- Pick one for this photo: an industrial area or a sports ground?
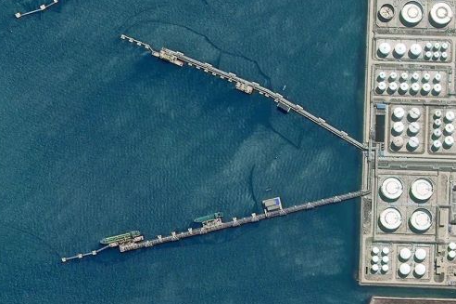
industrial area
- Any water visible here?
Yes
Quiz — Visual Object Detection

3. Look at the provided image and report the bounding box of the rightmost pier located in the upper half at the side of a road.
[163,48,369,150]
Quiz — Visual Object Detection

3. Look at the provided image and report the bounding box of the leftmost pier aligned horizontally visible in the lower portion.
[120,190,370,252]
